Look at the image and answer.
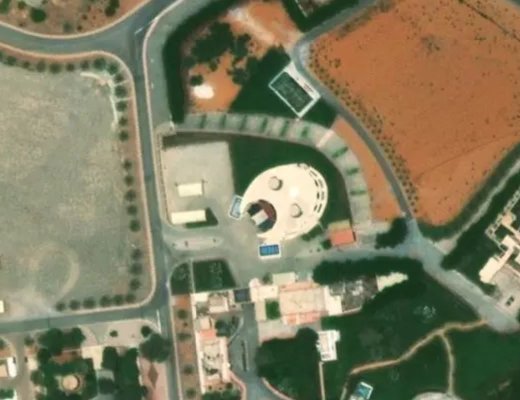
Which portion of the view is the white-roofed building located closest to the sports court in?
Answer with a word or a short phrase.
center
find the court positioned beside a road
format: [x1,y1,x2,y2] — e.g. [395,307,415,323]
[270,61,321,115]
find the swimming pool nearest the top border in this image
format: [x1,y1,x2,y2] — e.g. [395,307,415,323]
[229,195,243,218]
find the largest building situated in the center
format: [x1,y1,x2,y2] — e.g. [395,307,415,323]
[243,163,329,243]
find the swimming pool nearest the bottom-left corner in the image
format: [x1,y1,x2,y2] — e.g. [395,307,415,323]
[235,289,250,303]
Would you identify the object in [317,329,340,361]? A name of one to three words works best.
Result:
building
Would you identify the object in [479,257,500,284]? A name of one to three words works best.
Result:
house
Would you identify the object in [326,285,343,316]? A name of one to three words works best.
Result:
house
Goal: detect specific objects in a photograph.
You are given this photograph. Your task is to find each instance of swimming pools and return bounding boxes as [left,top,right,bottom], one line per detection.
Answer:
[235,289,250,303]
[229,195,243,218]
[355,382,373,400]
[258,243,281,258]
